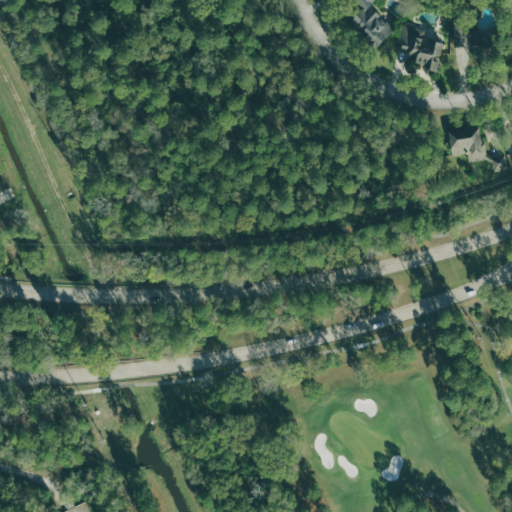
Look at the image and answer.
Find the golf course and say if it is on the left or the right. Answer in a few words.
right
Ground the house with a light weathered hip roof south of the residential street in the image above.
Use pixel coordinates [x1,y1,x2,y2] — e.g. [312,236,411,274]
[449,123,504,172]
